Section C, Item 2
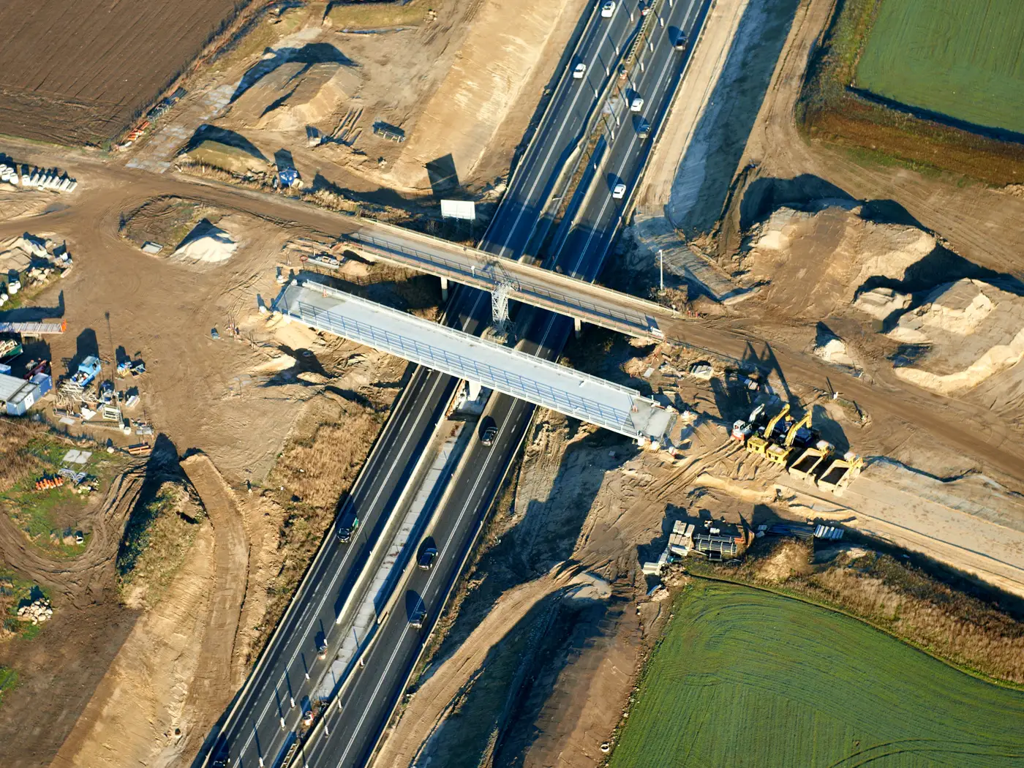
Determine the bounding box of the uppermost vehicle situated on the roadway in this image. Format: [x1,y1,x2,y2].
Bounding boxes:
[602,2,615,18]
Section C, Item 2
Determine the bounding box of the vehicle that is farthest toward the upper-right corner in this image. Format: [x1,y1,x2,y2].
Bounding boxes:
[673,35,687,52]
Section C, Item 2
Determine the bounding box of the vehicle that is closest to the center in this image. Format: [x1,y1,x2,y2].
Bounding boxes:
[479,426,497,448]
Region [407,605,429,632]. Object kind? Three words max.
vehicle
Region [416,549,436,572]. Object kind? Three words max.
car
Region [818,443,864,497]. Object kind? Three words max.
truck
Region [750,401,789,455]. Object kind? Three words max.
work vehicle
